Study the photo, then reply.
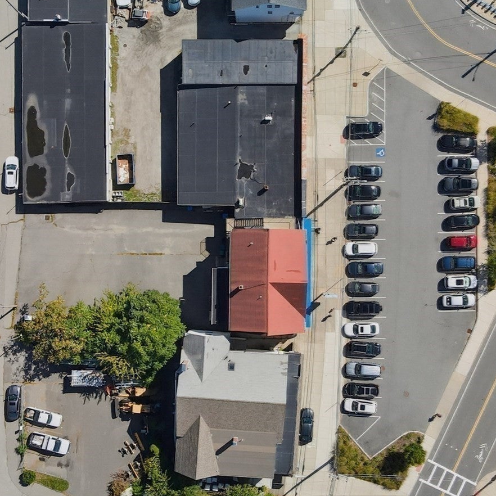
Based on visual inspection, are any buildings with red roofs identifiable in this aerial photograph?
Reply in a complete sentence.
Yes, looking at the shot, I can spot a building with a red roof.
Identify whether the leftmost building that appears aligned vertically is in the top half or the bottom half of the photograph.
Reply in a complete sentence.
You can find the leftmost building that appears aligned vertically in the top half.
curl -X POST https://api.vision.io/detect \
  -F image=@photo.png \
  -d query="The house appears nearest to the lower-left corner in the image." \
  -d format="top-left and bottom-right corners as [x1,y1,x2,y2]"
[175,332,301,481]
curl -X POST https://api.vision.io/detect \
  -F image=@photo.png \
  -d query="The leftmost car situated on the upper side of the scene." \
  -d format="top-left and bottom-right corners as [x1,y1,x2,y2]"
[2,155,20,191]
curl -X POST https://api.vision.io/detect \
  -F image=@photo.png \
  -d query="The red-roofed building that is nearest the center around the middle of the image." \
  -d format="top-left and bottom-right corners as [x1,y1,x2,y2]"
[213,217,321,335]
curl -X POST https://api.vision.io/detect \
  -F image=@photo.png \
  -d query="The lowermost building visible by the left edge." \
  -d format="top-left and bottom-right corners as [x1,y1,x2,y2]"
[21,17,112,206]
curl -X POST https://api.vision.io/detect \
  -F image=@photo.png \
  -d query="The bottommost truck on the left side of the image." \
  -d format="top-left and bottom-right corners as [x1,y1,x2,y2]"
[27,433,70,454]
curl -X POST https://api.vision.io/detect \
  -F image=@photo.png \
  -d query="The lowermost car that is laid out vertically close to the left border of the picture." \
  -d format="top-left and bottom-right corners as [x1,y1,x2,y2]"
[4,386,21,421]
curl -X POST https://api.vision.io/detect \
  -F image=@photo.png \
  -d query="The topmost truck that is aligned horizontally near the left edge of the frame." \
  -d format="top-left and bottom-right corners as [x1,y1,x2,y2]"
[22,406,63,427]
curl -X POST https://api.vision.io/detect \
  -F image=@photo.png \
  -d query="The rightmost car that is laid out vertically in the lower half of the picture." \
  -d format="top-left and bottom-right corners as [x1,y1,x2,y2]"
[299,408,315,442]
